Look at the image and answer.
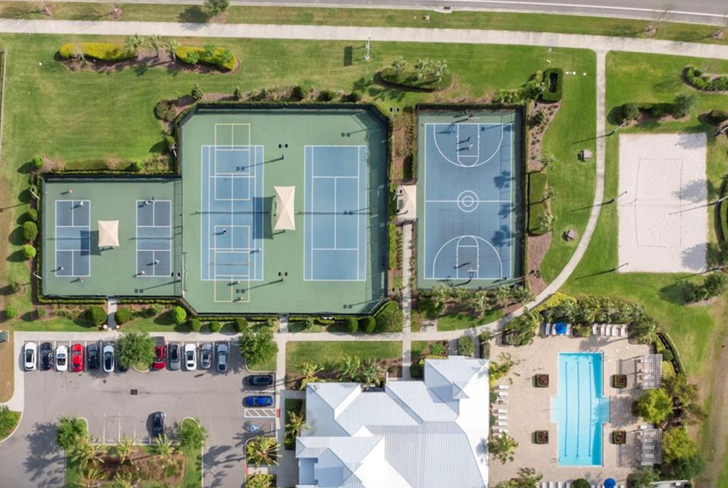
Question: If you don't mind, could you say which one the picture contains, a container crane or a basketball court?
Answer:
basketball court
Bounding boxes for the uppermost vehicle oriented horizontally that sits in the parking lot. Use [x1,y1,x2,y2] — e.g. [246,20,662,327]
[248,373,274,386]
